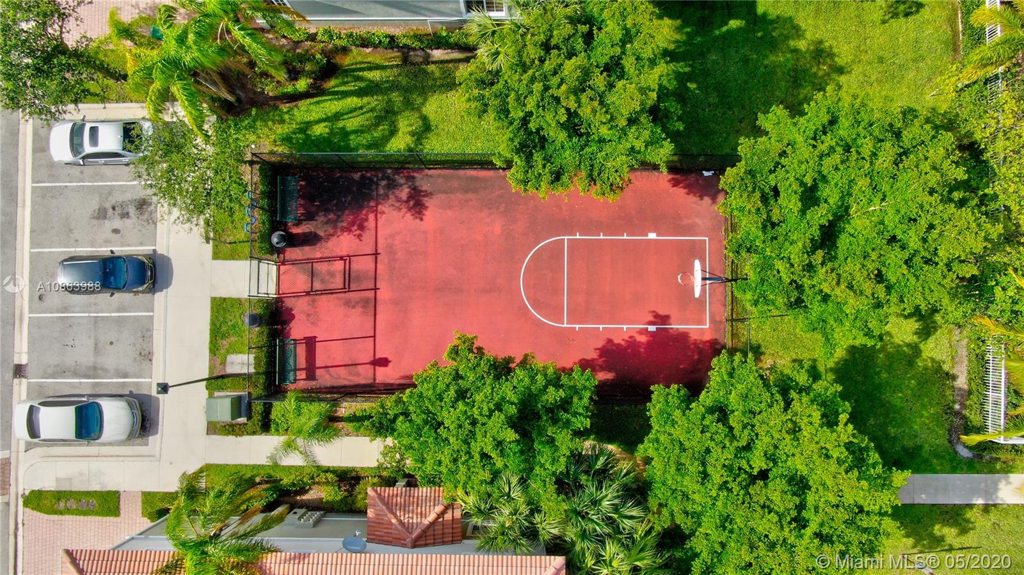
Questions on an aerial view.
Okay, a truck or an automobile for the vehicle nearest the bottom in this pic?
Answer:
automobile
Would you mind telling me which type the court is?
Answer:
basketball court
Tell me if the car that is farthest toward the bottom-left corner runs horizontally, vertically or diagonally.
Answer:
horizontally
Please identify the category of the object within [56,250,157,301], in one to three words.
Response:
car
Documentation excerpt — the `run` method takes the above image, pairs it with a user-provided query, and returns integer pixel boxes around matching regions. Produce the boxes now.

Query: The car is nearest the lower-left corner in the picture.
[13,393,140,449]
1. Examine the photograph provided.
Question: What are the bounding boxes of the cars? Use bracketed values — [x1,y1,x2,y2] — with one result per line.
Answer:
[13,393,140,449]
[49,117,156,168]
[56,250,157,301]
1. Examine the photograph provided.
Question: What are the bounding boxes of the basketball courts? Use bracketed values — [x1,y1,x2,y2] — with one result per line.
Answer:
[277,168,728,389]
